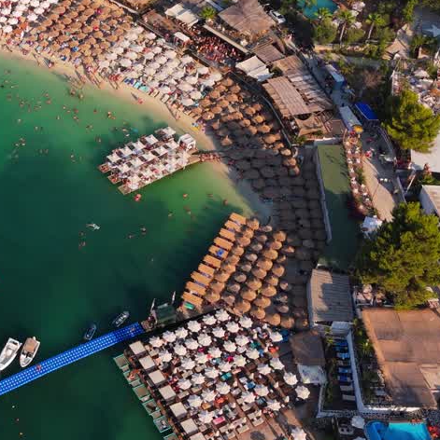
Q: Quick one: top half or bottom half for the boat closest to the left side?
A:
bottom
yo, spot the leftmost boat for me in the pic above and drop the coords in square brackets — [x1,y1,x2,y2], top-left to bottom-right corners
[0,336,22,368]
